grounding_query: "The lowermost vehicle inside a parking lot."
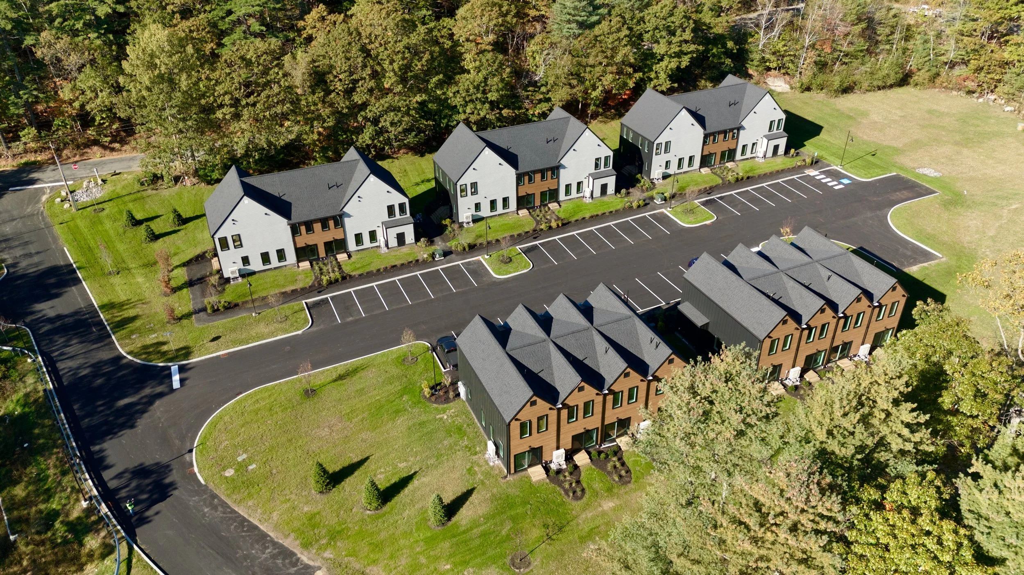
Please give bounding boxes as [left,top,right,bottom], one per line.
[433,325,459,364]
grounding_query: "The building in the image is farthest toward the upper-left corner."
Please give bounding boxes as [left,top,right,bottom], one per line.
[204,146,415,279]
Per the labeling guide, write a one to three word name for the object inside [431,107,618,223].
house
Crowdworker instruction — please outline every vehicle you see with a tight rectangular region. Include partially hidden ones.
[433,325,459,364]
[687,257,699,268]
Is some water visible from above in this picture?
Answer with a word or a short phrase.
No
